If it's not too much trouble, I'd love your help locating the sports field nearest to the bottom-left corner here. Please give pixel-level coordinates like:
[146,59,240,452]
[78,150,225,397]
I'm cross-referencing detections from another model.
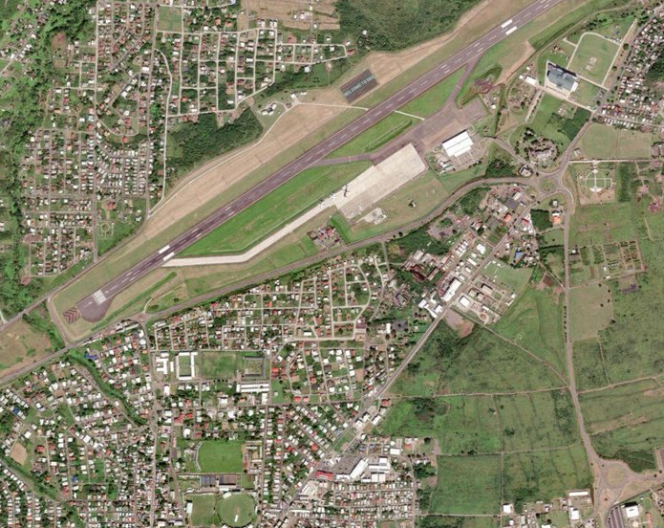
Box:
[189,493,214,526]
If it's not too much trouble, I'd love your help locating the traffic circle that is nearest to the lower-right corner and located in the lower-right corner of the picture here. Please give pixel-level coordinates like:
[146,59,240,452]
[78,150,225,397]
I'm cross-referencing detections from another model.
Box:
[601,461,632,490]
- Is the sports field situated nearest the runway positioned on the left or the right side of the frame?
right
